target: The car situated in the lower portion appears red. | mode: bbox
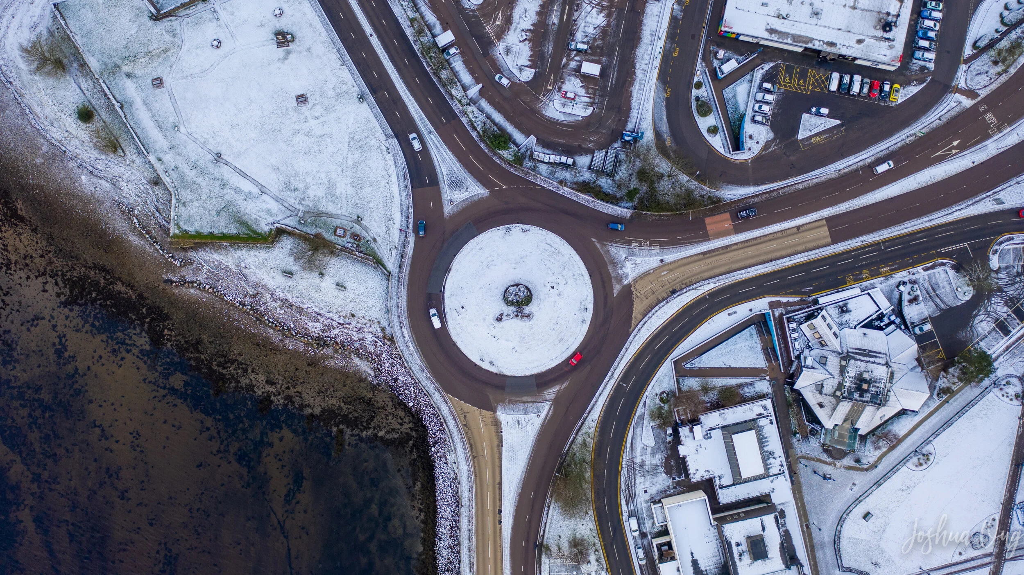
[570,351,583,366]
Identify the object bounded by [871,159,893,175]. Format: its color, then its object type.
white vehicle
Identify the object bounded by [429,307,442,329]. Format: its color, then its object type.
white vehicle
